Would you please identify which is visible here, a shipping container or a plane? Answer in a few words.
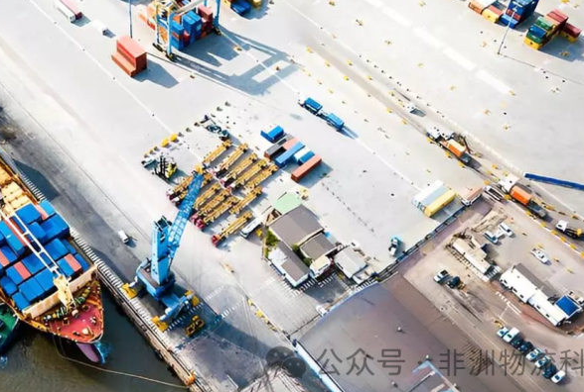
shipping container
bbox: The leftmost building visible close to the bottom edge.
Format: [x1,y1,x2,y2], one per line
[295,272,530,392]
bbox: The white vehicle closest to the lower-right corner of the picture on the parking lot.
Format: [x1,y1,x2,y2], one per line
[547,366,566,381]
